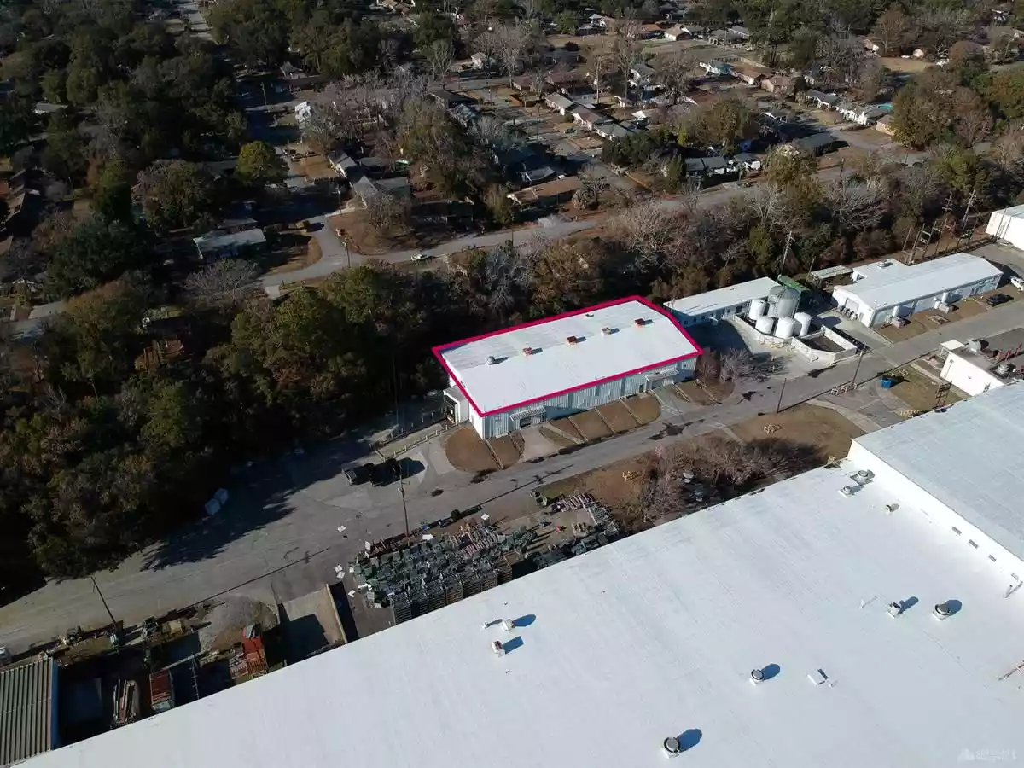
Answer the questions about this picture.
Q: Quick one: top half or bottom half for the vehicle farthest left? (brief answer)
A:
bottom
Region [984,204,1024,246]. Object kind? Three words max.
building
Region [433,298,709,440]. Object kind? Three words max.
building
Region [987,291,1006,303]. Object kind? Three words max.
vehicle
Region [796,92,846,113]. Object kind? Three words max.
house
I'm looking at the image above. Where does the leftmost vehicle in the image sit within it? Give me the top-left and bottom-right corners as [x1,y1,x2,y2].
[0,638,27,662]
